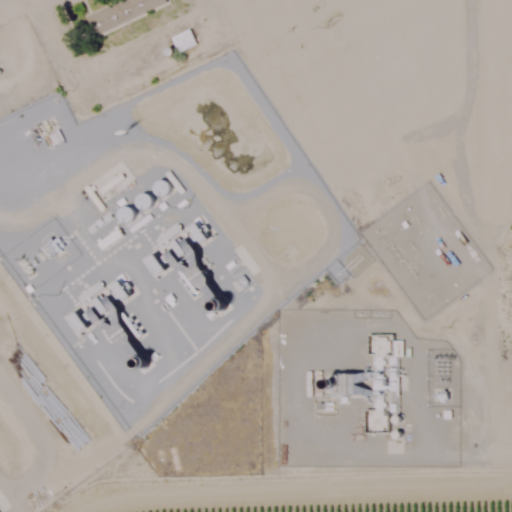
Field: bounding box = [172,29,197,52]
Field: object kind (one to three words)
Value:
shed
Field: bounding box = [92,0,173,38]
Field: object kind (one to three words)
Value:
barn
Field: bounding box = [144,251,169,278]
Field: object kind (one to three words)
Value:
house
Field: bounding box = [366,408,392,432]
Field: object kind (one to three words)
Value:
house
